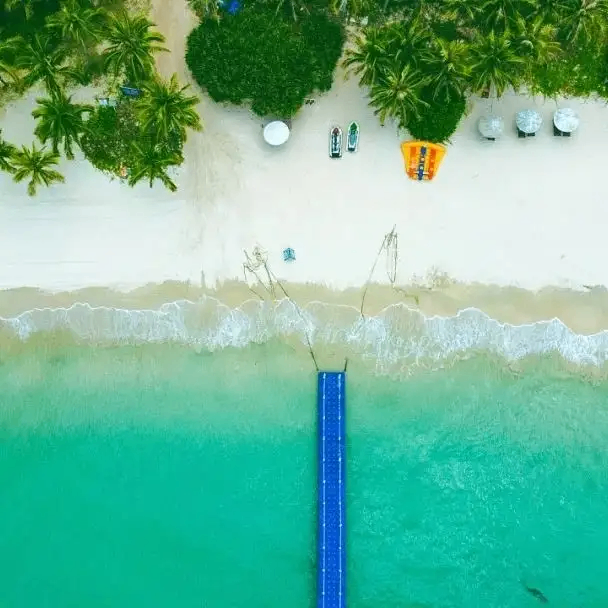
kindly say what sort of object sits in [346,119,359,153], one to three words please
boat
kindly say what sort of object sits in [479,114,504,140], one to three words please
umbrella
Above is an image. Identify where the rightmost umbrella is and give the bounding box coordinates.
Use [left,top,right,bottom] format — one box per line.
[554,107,580,132]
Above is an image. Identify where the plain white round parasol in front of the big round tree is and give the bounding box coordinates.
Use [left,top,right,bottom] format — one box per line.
[264,119,290,146]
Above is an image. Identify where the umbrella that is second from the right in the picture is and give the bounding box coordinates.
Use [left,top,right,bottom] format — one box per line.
[517,108,542,134]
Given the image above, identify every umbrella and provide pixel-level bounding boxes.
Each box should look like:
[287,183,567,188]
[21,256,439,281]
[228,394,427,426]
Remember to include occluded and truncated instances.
[554,107,580,132]
[517,108,542,134]
[479,114,504,140]
[264,119,290,146]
